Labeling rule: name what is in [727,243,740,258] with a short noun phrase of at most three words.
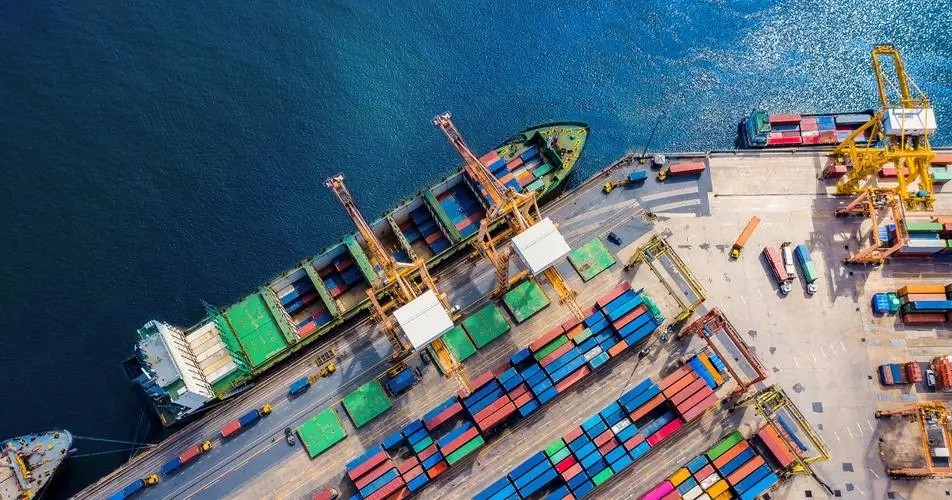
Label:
vehicle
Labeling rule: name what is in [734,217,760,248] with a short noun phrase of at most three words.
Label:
shipping container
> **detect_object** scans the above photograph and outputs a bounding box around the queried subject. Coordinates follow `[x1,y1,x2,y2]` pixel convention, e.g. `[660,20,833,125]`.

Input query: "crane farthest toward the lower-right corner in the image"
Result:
[875,408,952,473]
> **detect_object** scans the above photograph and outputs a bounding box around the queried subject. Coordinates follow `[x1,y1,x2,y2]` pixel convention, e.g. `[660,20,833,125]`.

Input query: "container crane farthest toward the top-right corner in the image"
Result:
[821,46,946,207]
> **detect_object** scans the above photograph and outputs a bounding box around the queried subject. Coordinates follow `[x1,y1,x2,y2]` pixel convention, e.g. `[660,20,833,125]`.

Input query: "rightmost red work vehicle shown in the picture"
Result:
[932,359,952,391]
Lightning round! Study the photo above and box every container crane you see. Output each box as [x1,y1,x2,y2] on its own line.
[875,408,952,473]
[435,110,589,319]
[726,387,832,477]
[821,46,946,207]
[832,191,909,262]
[620,234,708,326]
[668,307,760,393]
[324,172,474,396]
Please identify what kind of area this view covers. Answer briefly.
port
